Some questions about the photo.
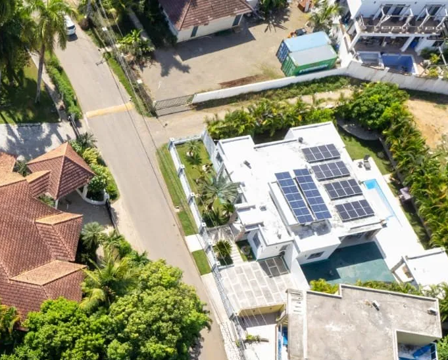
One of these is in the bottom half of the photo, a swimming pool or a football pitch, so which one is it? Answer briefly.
swimming pool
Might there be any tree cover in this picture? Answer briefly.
Yes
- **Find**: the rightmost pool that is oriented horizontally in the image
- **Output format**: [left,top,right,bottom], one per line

[380,52,422,73]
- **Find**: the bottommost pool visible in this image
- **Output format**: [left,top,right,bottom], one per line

[298,239,399,290]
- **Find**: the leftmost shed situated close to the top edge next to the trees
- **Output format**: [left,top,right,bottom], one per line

[161,0,255,46]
